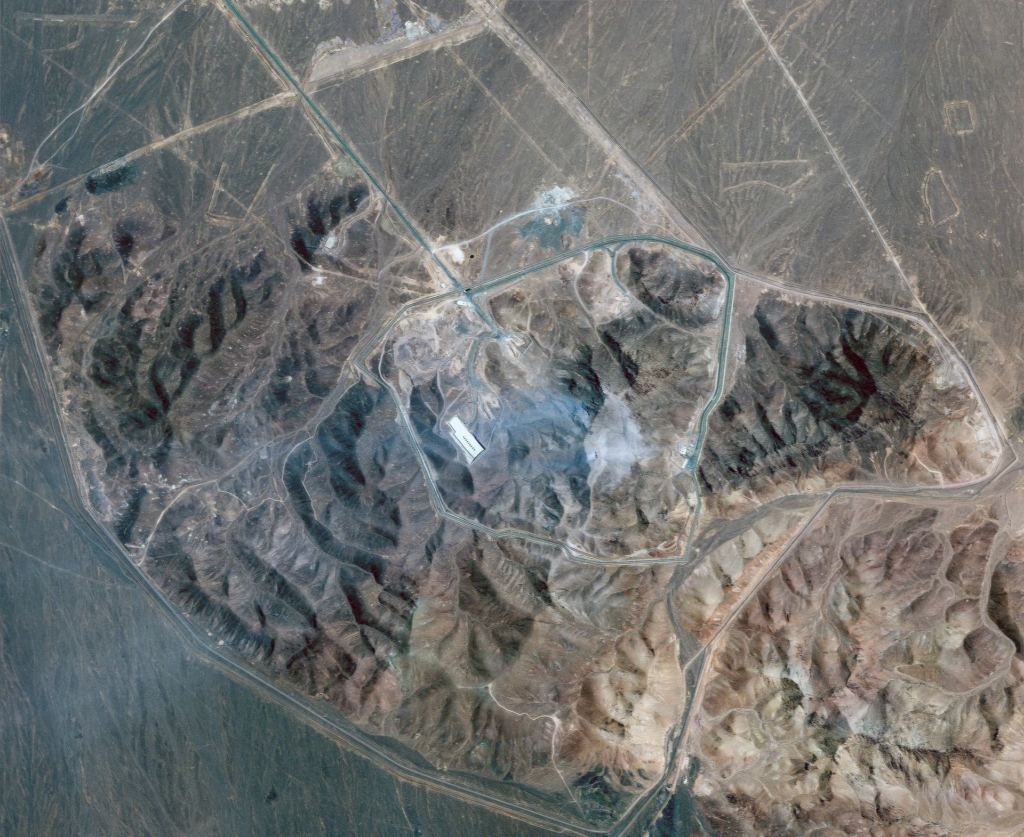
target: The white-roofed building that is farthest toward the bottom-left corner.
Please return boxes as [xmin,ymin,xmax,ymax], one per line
[448,415,486,464]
